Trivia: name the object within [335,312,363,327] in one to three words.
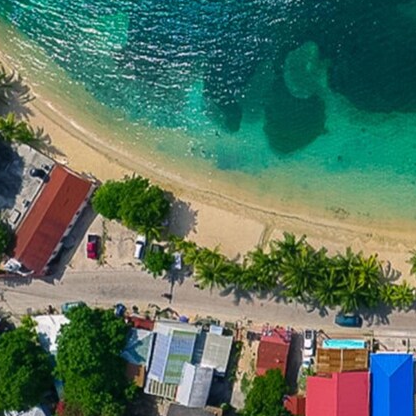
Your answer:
car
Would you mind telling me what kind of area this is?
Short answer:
residential area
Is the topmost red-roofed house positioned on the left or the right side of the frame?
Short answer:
left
